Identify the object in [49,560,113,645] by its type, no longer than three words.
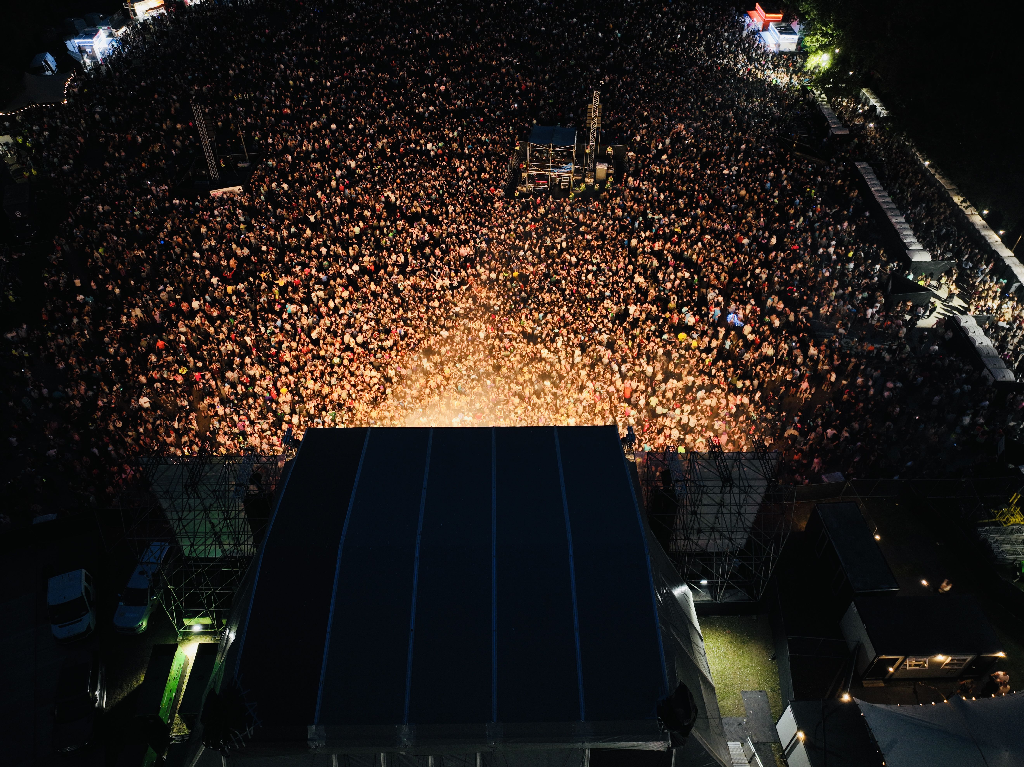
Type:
van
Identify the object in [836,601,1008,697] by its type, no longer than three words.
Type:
building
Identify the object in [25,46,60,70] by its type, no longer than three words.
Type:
vehicle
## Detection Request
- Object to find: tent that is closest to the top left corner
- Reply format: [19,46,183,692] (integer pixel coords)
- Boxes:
[0,68,84,128]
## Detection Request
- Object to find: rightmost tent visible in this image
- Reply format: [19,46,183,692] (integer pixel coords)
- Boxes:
[850,689,1024,767]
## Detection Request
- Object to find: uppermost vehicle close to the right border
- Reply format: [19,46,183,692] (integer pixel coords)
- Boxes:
[977,472,1024,531]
